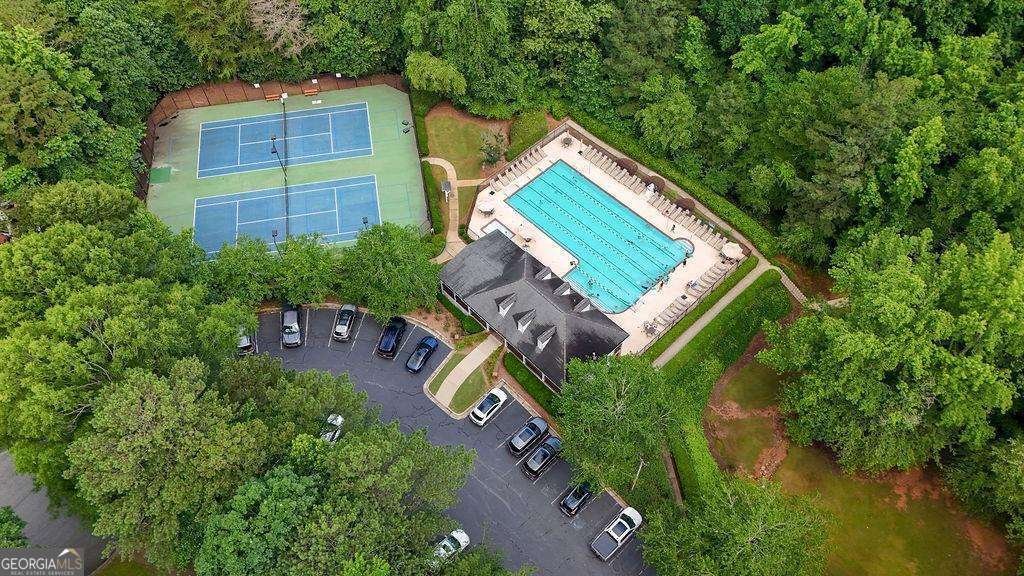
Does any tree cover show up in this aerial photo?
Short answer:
Yes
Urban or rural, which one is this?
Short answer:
rural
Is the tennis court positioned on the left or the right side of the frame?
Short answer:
left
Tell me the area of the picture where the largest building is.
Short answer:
center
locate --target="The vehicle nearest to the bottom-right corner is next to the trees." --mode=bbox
[588,504,646,565]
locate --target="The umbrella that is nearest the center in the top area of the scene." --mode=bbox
[474,196,498,217]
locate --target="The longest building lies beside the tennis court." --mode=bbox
[439,233,629,398]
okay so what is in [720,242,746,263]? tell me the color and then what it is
white umbrella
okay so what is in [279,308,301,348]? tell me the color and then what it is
gray car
